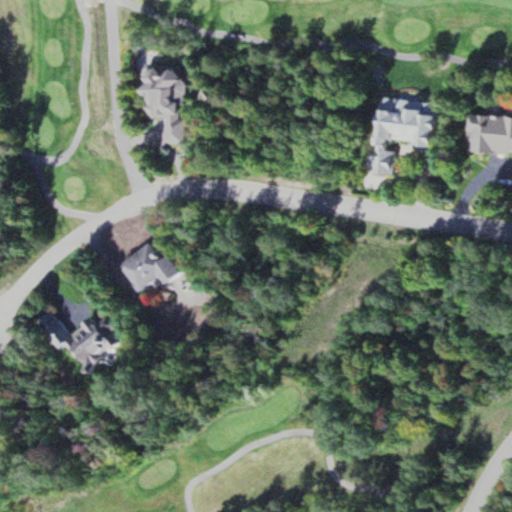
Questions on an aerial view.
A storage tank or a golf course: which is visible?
golf course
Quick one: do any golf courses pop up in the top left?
Yes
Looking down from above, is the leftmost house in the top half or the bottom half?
bottom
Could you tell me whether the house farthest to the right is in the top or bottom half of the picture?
top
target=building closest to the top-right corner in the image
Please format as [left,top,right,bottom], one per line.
[467,112,512,150]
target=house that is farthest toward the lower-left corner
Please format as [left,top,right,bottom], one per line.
[36,314,118,378]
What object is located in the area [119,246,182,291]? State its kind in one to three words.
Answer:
house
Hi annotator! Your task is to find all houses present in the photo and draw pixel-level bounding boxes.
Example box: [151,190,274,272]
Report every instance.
[119,246,182,291]
[134,64,186,144]
[467,112,512,150]
[370,96,434,172]
[36,314,118,378]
